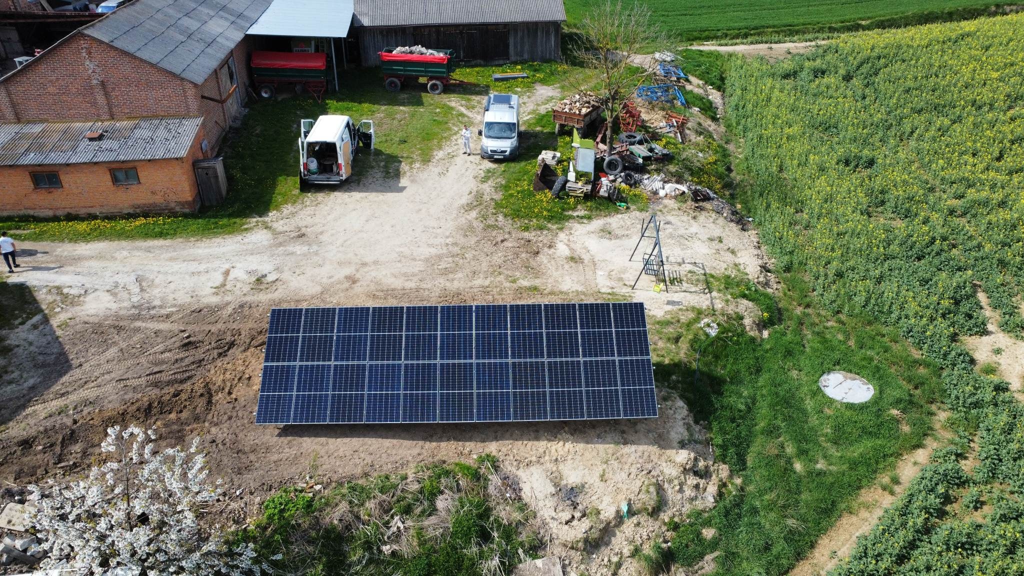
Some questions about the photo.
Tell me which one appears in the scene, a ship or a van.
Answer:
van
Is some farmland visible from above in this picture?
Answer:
Yes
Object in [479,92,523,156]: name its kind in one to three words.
van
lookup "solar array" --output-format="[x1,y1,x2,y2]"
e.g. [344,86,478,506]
[253,303,660,428]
